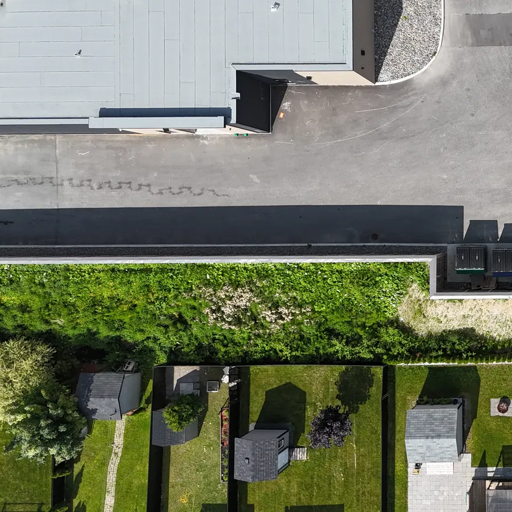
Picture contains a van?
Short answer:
No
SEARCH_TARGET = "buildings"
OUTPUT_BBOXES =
[153,405,197,447]
[0,0,375,135]
[404,402,462,463]
[73,368,141,421]
[235,429,290,484]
